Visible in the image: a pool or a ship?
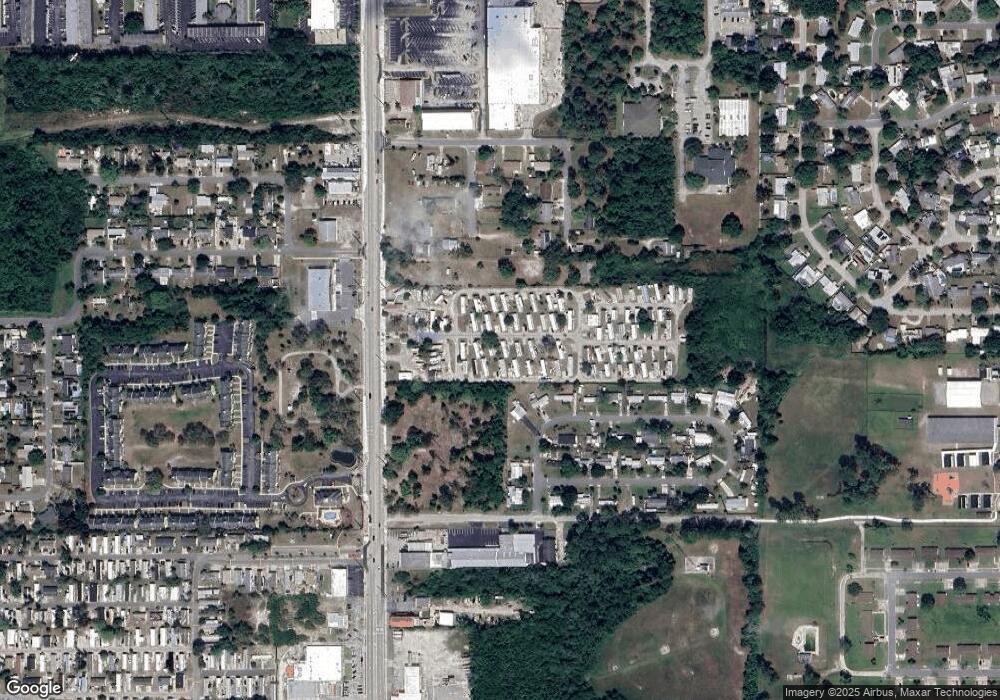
pool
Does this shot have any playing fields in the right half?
Yes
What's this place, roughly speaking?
residential area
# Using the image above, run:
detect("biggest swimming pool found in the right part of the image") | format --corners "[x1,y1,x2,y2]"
[792,625,818,655]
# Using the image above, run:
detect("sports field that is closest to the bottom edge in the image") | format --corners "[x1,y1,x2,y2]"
[766,525,839,622]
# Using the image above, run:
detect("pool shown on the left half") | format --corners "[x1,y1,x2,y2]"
[319,510,341,528]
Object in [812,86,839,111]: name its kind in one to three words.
house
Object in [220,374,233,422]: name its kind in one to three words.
building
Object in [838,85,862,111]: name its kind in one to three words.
house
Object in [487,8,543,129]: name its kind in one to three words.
building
